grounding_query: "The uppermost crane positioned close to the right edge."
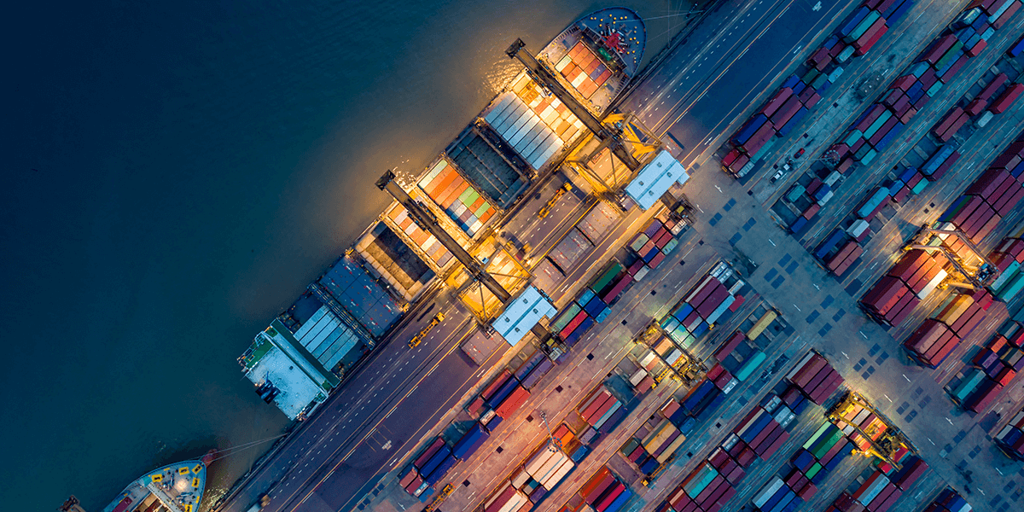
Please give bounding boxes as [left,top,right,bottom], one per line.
[907,223,1001,290]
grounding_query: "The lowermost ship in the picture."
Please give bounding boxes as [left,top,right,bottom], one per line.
[98,448,218,512]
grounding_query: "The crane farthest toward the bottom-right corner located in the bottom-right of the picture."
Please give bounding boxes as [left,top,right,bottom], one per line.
[828,392,917,471]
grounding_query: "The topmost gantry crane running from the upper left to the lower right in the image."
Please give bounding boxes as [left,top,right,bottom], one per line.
[505,33,701,226]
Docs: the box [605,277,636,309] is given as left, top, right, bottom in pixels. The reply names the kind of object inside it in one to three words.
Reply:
shipping container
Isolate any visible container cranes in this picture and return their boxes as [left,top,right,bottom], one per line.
[633,315,711,388]
[907,223,1001,290]
[505,33,701,226]
[373,169,569,361]
[828,392,917,471]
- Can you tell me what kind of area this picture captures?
port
